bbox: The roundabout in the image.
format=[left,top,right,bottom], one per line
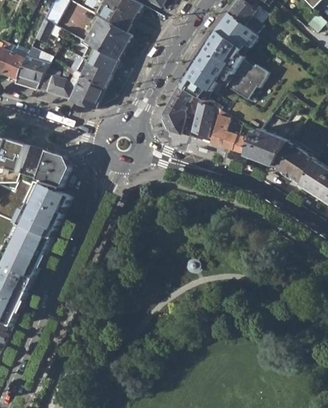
[95,116,157,171]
